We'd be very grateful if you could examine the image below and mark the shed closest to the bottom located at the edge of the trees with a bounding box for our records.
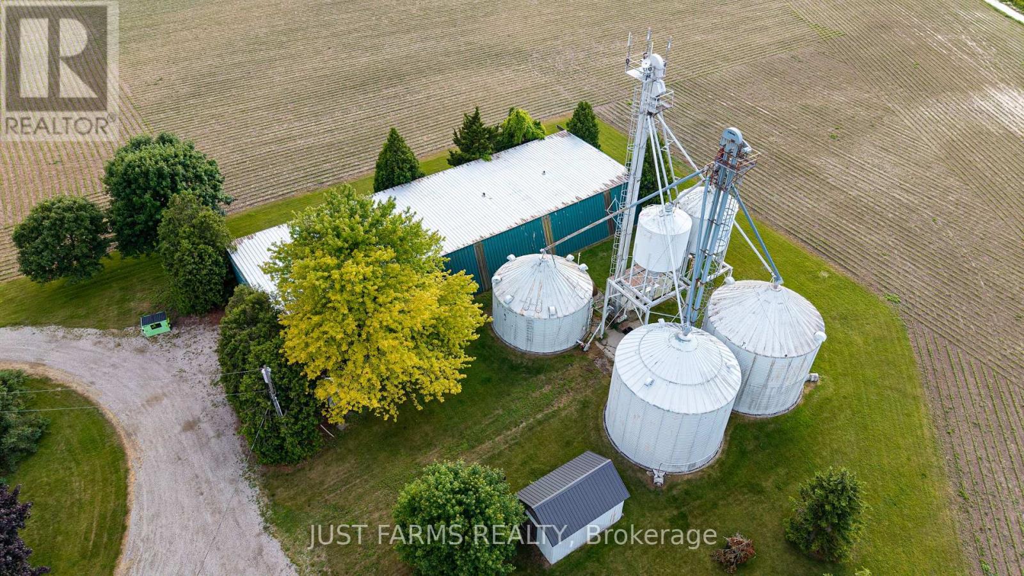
[511,453,631,565]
